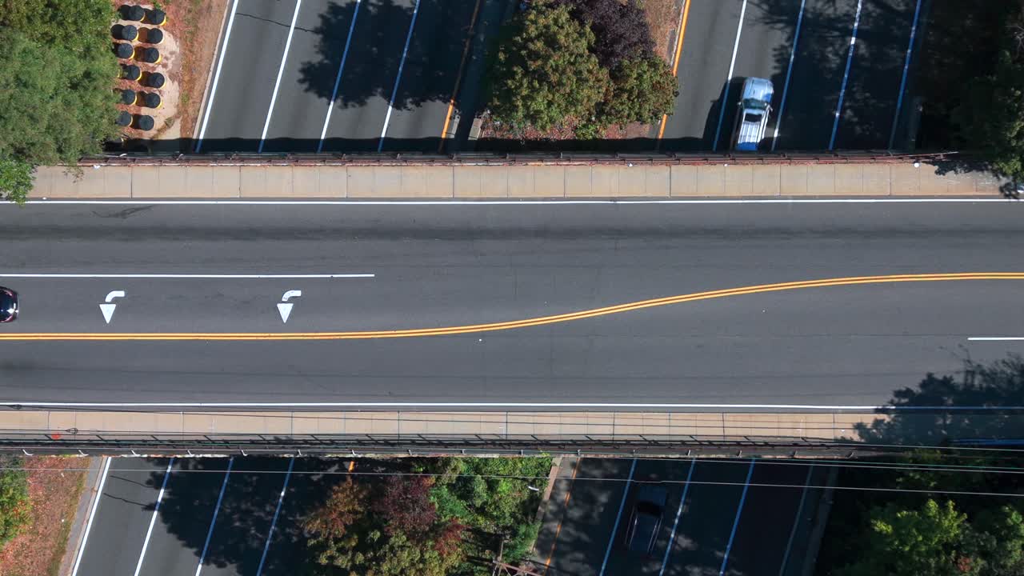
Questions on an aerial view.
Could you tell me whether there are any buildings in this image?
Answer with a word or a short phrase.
No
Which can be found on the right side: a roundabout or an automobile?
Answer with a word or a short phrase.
automobile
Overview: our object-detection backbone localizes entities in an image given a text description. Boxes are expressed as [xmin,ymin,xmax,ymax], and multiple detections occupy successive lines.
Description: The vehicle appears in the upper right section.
[726,76,773,158]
